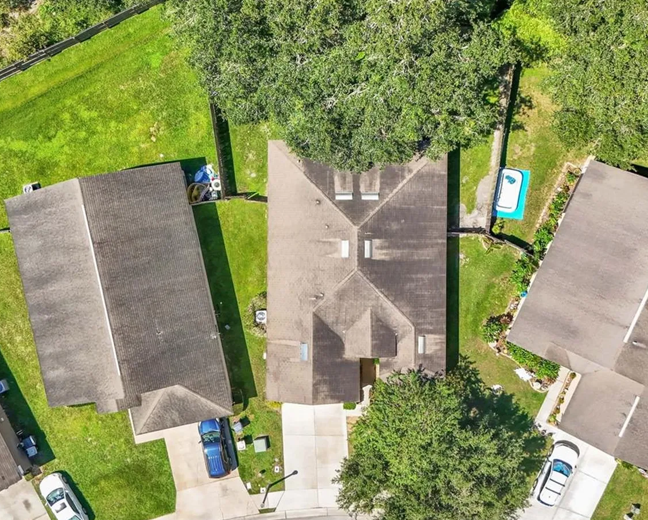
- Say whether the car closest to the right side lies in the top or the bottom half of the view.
bottom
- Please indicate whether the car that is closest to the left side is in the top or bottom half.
bottom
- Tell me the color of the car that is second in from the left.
blue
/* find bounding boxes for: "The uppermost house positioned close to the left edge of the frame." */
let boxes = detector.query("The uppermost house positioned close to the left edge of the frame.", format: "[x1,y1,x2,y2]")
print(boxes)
[4,161,236,435]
